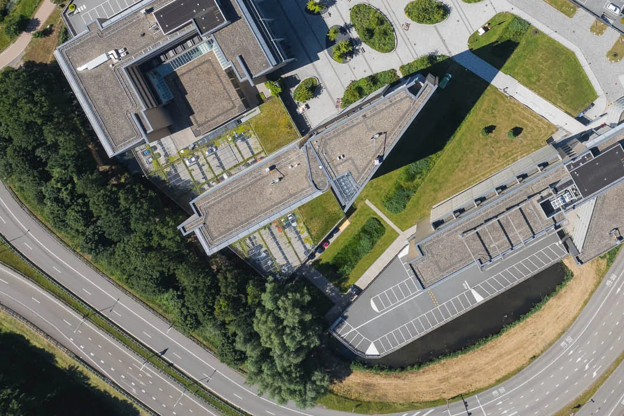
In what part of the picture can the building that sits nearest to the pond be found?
right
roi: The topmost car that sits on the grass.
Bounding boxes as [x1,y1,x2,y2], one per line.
[438,74,451,89]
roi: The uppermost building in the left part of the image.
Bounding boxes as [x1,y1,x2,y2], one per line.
[55,0,294,157]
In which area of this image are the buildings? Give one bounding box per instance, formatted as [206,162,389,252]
[179,74,438,256]
[409,118,624,288]
[55,0,294,157]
